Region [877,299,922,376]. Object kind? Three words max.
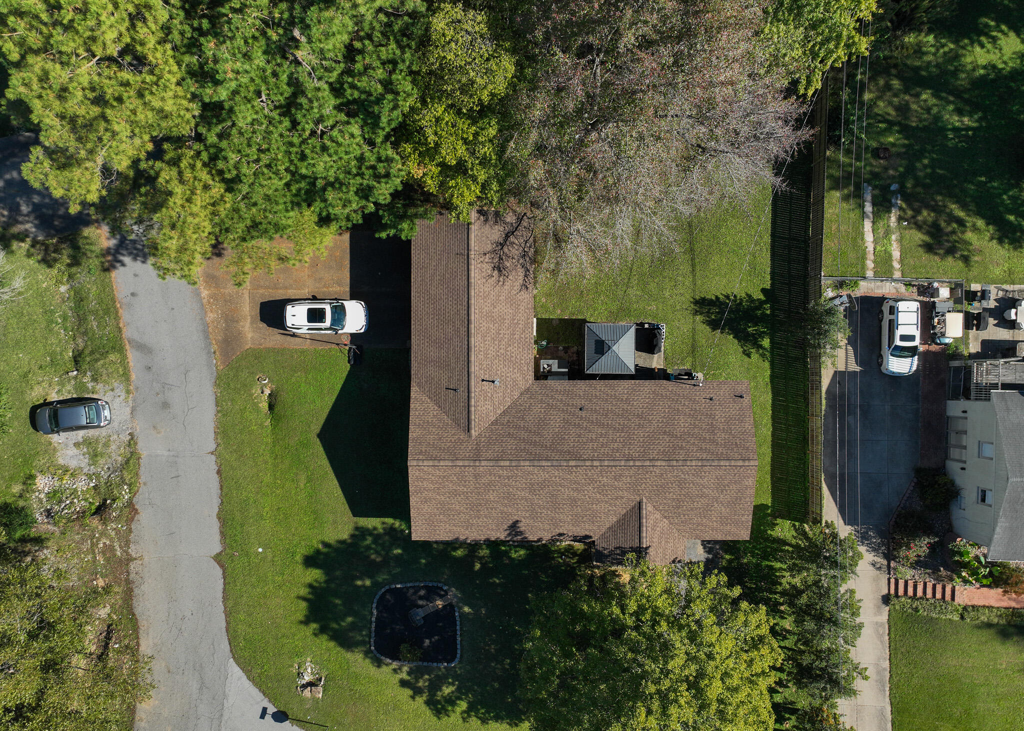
car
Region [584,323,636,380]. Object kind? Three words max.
gazebo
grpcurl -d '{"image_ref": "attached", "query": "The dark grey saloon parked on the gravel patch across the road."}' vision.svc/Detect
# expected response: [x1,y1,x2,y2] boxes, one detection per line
[37,399,114,437]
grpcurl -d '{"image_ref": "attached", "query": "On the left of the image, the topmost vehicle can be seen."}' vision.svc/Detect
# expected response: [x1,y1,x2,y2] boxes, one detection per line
[286,297,370,337]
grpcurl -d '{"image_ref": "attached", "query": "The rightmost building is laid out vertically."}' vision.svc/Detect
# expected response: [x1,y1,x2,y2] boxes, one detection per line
[945,389,1024,562]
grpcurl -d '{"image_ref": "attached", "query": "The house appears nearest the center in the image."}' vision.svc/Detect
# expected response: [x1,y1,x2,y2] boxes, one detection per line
[407,207,761,570]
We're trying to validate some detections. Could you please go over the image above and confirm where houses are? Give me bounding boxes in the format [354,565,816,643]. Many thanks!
[945,389,1024,562]
[407,207,761,570]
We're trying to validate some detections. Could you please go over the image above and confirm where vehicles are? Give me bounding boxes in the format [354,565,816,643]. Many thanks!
[877,299,922,376]
[37,399,114,437]
[286,297,370,337]
[927,301,964,346]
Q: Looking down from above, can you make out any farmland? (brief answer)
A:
No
